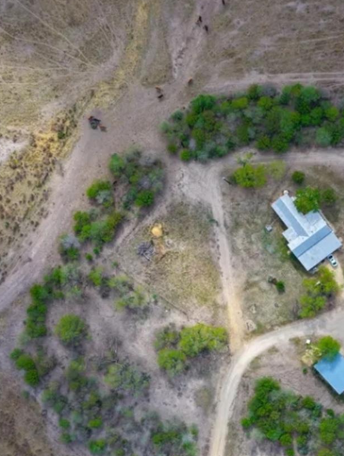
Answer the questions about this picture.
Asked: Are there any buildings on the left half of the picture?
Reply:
No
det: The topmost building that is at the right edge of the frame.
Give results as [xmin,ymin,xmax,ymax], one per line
[272,195,343,273]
